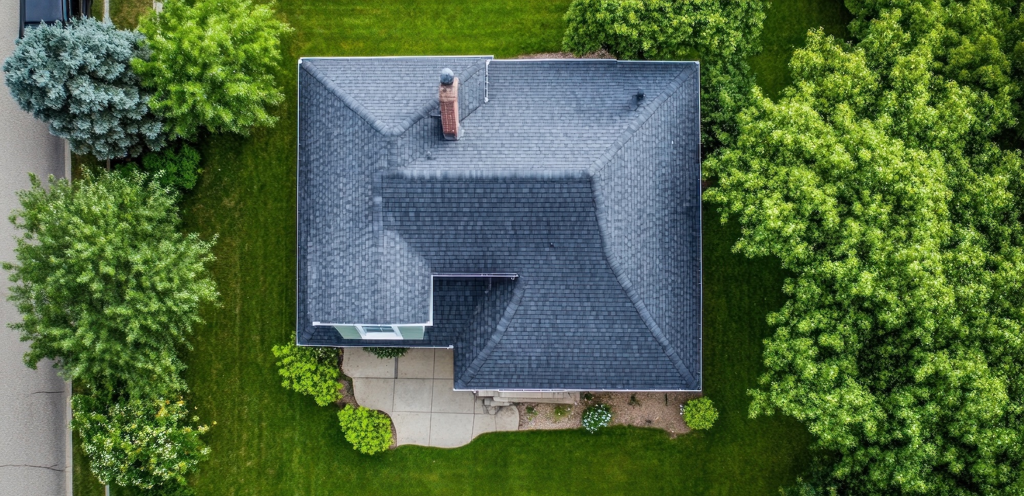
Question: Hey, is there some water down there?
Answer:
No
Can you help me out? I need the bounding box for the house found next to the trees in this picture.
[295,56,704,394]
